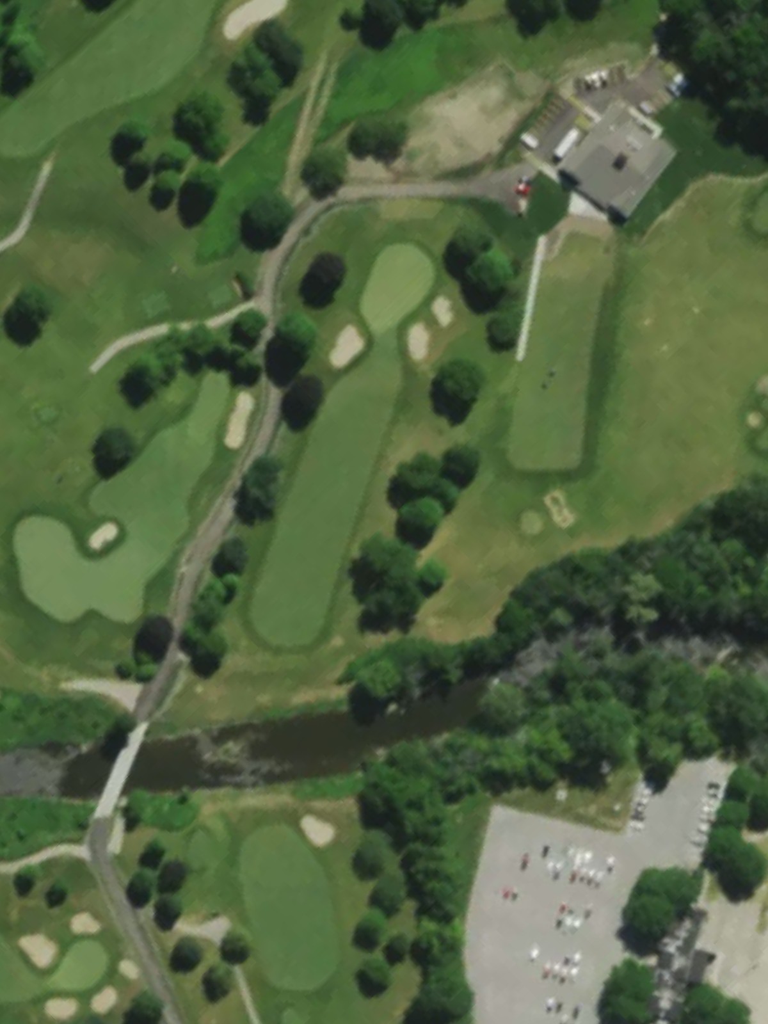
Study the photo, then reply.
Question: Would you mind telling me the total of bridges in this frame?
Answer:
one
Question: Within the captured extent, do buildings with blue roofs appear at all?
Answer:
No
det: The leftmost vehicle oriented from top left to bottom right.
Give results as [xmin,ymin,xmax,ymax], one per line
[522,133,537,147]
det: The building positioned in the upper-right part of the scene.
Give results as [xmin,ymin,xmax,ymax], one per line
[558,95,677,217]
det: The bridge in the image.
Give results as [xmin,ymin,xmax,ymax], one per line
[95,726,147,819]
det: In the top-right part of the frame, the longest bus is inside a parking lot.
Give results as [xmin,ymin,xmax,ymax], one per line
[554,129,578,159]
